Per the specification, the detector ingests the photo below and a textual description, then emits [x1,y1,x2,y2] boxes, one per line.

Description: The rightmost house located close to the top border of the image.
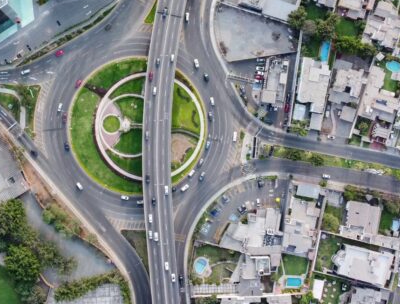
[359,0,400,48]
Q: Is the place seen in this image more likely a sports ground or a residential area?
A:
residential area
